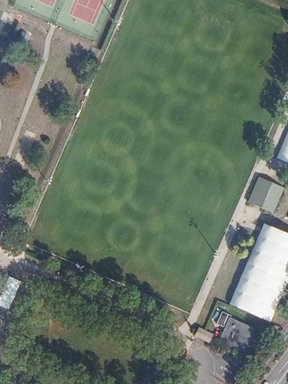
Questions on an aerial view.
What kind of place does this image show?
sports ground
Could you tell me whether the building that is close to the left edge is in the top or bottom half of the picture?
bottom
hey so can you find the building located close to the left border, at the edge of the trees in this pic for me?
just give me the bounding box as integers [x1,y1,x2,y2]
[0,276,22,310]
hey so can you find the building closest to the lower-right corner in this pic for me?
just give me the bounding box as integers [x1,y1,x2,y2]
[222,317,252,346]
